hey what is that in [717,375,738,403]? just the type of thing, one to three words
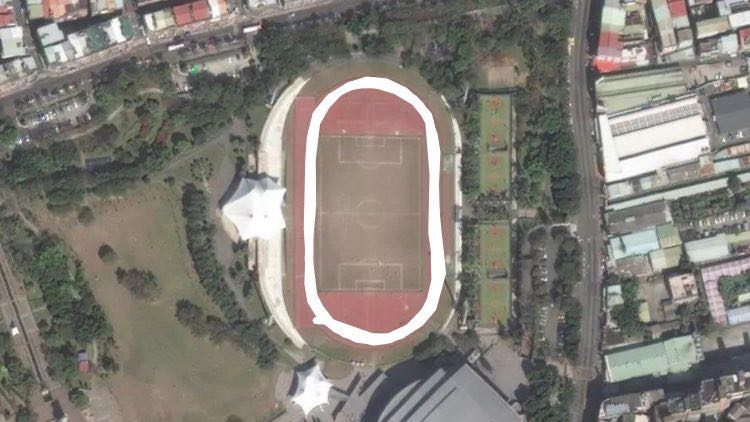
building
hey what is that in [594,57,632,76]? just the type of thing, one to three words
building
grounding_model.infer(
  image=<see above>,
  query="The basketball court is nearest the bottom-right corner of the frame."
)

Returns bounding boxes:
[479,276,510,328]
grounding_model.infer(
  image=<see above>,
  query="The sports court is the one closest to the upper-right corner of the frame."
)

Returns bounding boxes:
[489,66,515,87]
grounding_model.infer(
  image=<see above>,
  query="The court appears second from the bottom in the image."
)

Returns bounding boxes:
[479,224,510,272]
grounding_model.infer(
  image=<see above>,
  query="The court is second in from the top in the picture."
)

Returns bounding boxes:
[480,95,510,146]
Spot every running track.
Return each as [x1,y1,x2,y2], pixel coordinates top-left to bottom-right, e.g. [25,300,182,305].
[283,62,456,366]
